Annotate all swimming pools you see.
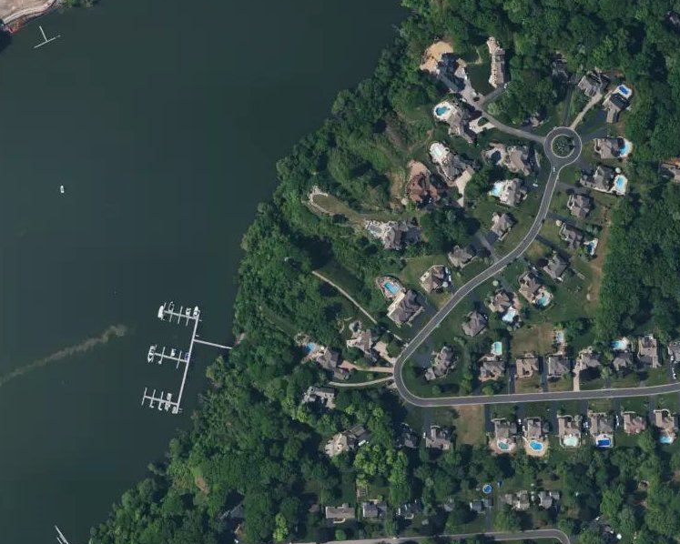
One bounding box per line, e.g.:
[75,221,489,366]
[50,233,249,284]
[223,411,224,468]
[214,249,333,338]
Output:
[658,433,674,443]
[612,339,630,350]
[430,142,448,163]
[615,81,634,99]
[561,436,581,448]
[490,438,517,453]
[488,180,503,196]
[612,173,628,194]
[488,145,505,163]
[352,320,361,332]
[492,341,503,353]
[596,434,612,447]
[502,306,517,324]
[523,438,548,461]
[535,290,552,308]
[619,135,631,157]
[383,278,404,301]
[434,101,454,119]
[585,240,597,255]
[305,341,317,354]
[555,329,564,347]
